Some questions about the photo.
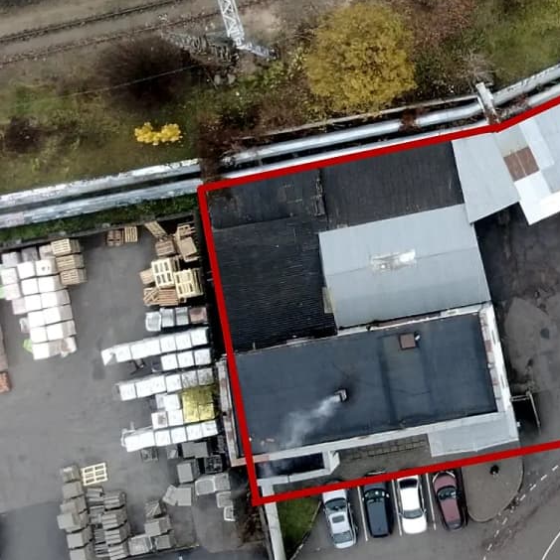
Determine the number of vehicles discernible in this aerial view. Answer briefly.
four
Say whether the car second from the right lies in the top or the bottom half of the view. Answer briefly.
bottom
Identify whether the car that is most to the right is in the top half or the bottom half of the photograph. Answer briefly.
bottom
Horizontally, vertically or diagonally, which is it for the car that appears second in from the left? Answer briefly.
vertically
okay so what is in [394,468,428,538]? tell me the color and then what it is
white car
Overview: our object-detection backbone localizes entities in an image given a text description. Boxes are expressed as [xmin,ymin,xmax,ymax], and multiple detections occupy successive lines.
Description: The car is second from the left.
[358,473,393,542]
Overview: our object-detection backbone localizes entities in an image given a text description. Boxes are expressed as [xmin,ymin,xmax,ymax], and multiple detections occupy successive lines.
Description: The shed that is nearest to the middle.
[207,165,339,352]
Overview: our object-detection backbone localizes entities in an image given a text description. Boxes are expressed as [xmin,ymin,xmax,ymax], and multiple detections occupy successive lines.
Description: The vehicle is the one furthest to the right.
[430,469,467,536]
